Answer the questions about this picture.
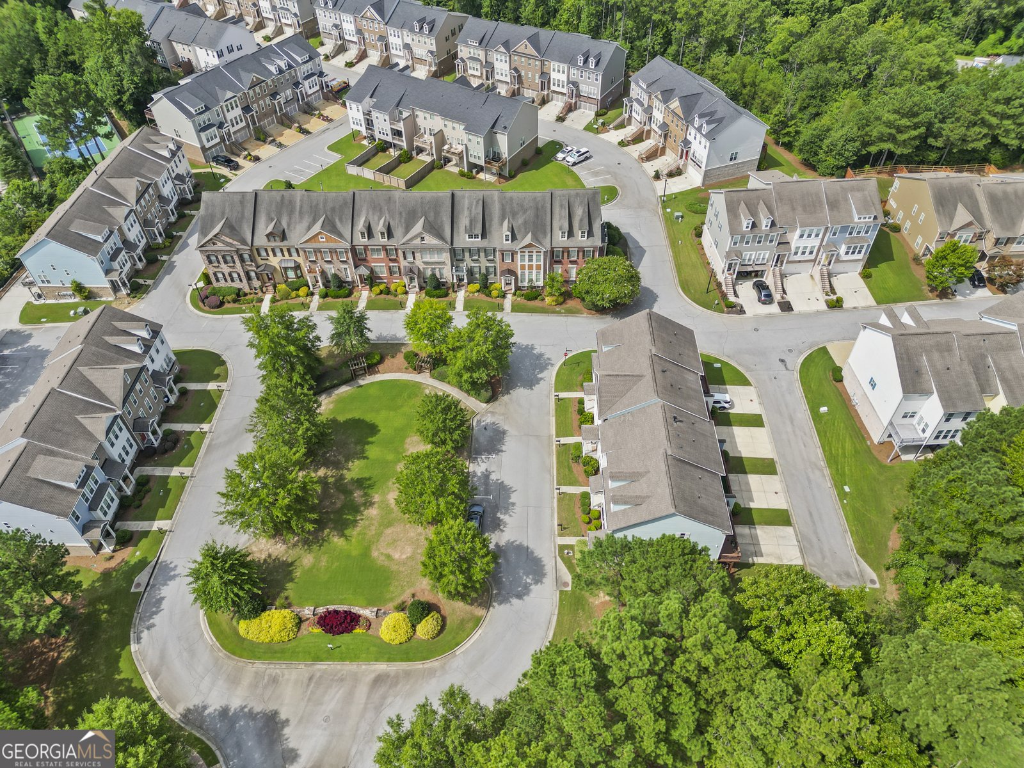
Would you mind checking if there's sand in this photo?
No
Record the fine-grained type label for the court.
tennis court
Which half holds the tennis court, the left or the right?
left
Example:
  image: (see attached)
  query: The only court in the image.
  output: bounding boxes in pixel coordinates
[13,109,123,182]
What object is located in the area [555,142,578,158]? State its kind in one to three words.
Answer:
car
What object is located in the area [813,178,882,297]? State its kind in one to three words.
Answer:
house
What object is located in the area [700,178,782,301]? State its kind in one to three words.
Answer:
house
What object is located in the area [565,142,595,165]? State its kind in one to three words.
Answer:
car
